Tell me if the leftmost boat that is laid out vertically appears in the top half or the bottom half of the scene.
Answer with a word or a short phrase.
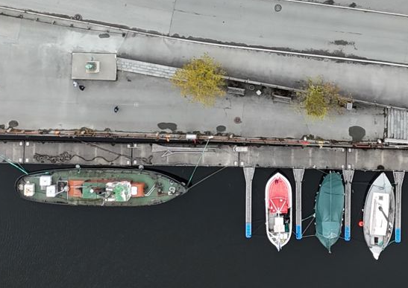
bottom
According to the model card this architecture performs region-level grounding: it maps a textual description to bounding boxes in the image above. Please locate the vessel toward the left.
[14,164,188,210]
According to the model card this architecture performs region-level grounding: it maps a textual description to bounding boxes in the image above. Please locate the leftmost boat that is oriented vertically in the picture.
[265,171,291,252]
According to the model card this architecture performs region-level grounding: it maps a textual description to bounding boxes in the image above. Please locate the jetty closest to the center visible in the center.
[133,143,239,169]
